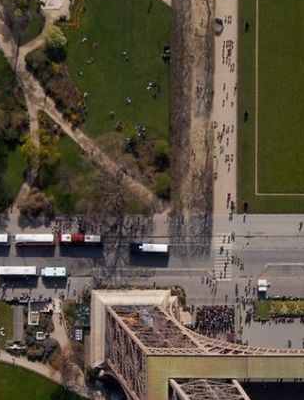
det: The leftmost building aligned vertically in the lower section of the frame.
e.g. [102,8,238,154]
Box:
[13,305,26,342]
